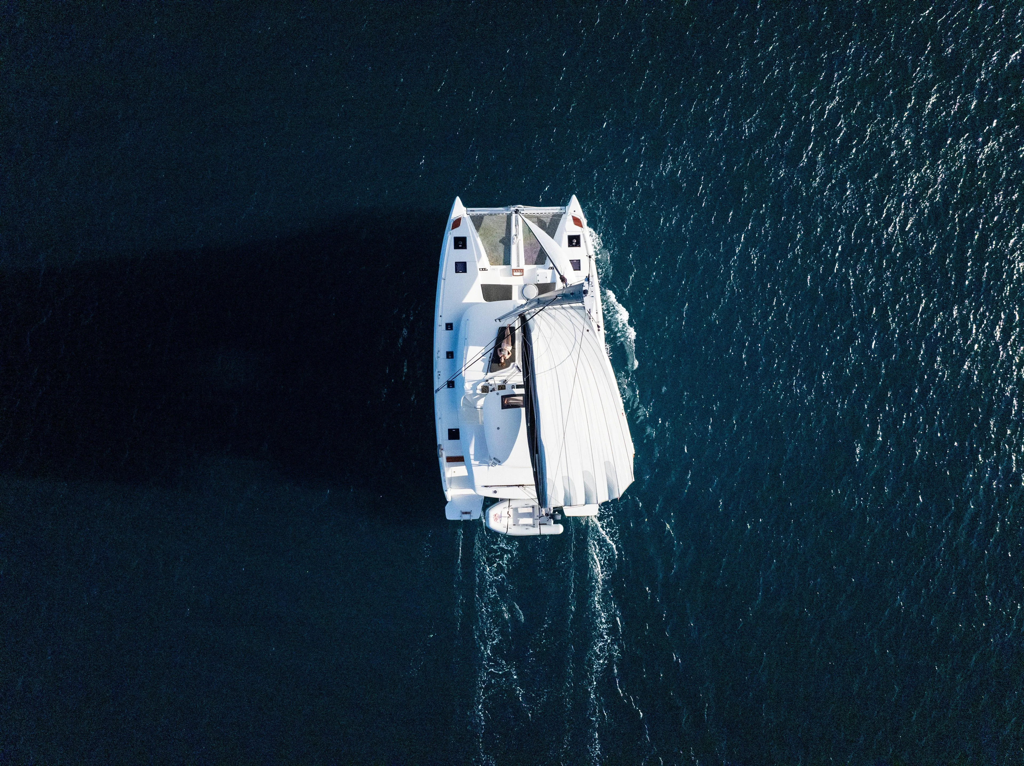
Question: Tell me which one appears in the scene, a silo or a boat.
boat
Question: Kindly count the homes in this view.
0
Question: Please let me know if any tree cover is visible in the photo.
No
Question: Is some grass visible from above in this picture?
No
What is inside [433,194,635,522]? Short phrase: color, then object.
white boat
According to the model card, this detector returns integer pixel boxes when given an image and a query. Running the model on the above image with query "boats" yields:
[485,498,564,536]
[433,194,635,522]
